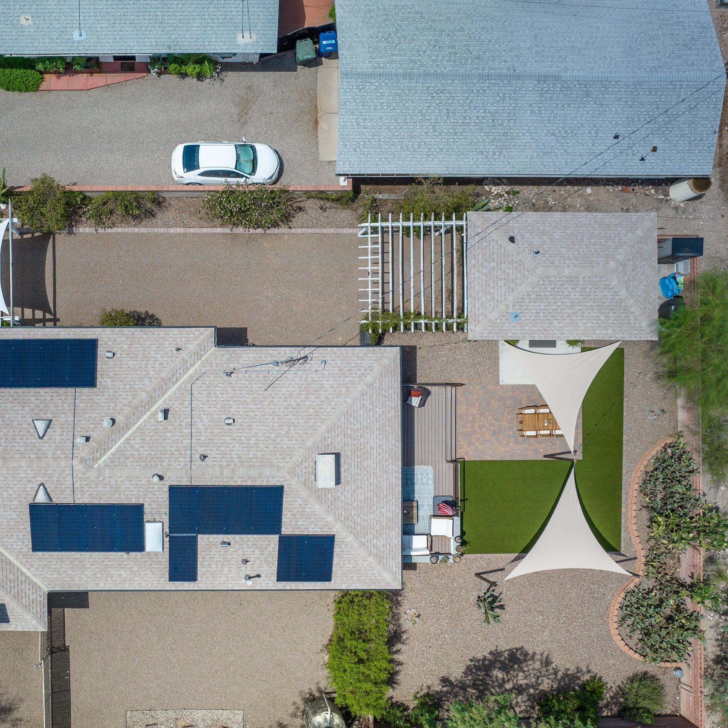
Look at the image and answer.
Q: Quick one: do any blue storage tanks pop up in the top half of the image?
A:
No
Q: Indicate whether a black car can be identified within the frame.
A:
No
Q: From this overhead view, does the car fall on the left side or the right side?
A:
left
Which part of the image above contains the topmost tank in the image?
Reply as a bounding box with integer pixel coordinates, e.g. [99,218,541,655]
[665,177,712,207]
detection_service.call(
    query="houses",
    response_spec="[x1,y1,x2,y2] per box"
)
[334,0,726,192]
[0,324,404,630]
[455,211,658,341]
[0,0,279,63]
